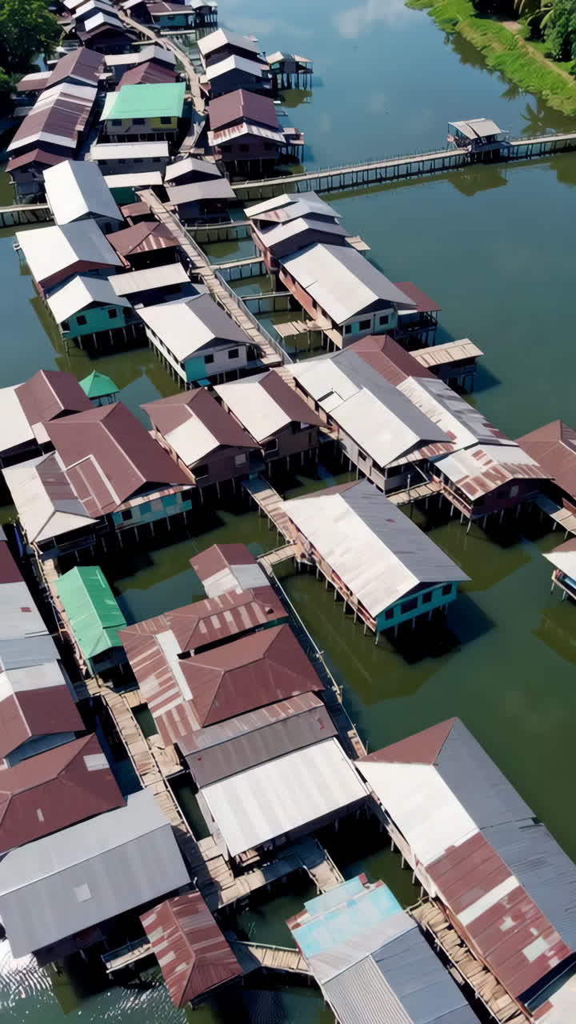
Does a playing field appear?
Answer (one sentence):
No, I can see no playing field in this picture.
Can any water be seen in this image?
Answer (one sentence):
Yes, water shows up in the scene.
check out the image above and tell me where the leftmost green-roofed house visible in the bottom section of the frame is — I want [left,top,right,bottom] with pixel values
[54,565,128,677]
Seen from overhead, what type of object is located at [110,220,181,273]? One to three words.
house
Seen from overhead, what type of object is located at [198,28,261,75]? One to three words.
house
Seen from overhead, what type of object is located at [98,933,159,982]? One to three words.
pier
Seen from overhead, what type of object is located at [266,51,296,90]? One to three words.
shed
